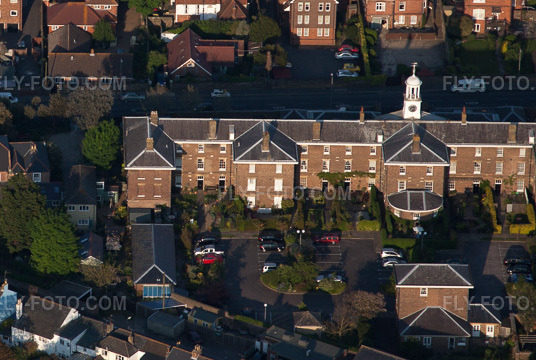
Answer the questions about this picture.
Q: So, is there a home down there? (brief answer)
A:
Yes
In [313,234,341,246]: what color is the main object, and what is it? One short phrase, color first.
red vehicle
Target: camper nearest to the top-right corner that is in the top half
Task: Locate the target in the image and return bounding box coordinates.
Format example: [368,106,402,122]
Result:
[451,76,485,95]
